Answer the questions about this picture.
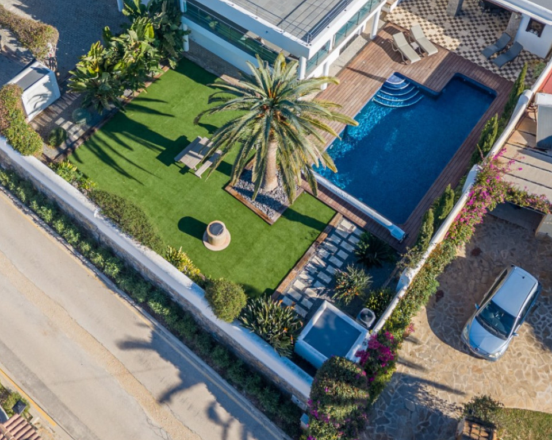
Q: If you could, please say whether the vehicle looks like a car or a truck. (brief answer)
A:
car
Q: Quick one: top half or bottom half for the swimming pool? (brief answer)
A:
top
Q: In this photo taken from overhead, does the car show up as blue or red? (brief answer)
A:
blue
